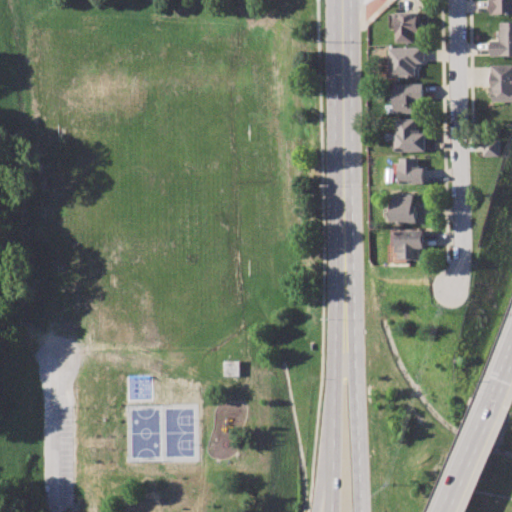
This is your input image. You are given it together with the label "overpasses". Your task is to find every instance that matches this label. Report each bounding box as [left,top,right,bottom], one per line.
[425,298,512,512]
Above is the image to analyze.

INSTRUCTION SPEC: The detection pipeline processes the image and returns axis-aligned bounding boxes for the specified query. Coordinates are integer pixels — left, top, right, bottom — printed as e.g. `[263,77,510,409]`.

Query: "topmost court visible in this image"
[130,376,152,400]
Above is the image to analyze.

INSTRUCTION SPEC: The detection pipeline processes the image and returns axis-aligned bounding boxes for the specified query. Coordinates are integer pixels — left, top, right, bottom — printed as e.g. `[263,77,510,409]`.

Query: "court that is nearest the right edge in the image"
[166,410,194,457]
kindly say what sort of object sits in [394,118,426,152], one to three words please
house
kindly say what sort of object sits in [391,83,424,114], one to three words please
house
